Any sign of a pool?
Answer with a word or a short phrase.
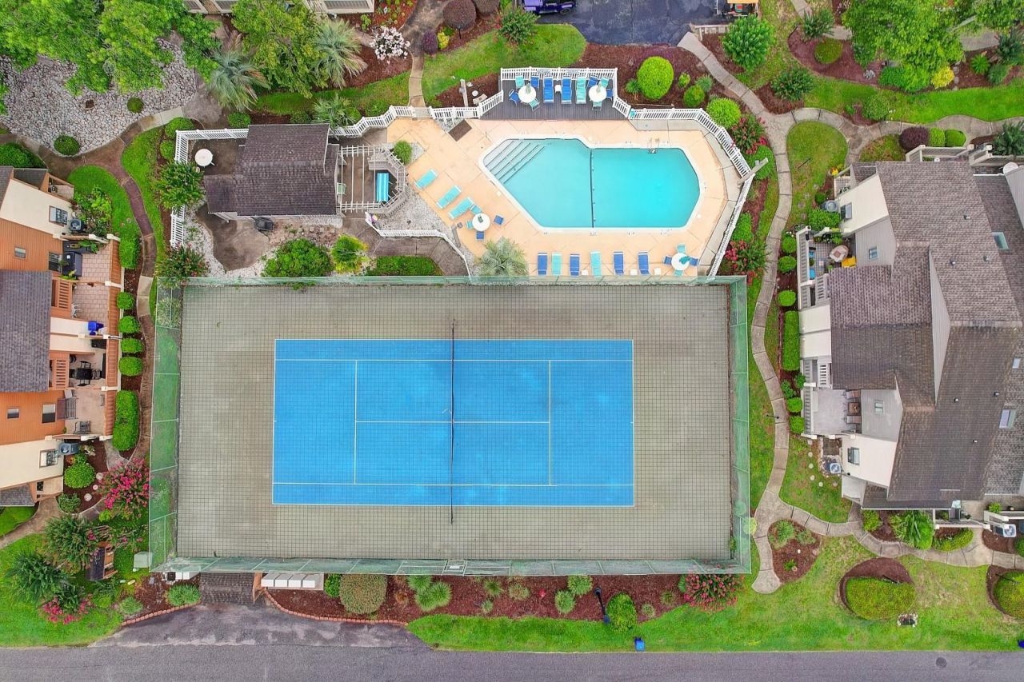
Yes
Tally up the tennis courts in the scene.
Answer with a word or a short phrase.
1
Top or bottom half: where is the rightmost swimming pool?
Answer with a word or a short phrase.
top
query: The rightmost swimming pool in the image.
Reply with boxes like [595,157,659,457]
[479,133,707,234]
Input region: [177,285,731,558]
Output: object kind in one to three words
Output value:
tennis court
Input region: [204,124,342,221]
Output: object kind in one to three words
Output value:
building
